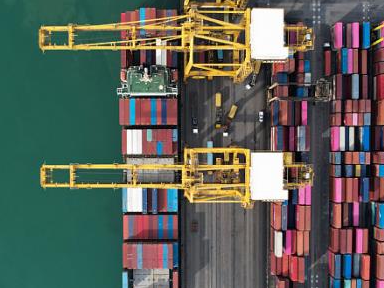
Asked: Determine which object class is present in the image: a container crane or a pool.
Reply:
container crane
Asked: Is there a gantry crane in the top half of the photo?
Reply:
Yes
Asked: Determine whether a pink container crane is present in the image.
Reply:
No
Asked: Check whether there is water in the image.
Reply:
Yes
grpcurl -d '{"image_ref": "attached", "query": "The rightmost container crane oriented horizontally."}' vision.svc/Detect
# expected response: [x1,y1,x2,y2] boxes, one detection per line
[266,81,333,108]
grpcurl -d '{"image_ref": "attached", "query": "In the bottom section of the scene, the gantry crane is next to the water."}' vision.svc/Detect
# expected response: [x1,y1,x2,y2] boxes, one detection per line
[38,142,317,207]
